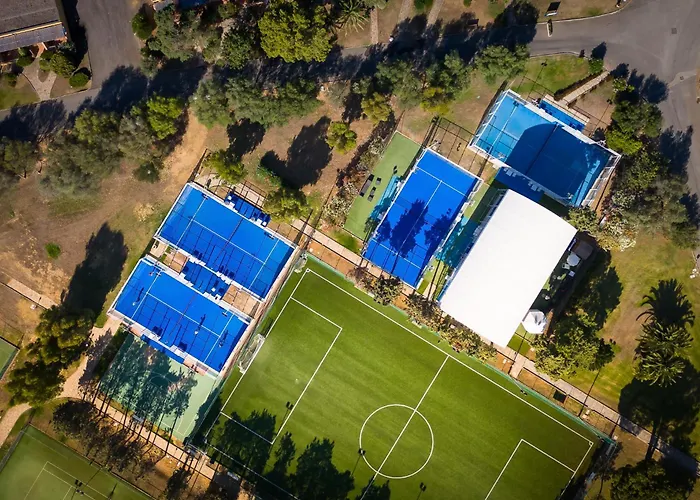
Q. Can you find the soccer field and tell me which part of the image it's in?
bottom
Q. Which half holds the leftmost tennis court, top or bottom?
bottom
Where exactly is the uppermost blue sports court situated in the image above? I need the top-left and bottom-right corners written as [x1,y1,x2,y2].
[464,88,618,213]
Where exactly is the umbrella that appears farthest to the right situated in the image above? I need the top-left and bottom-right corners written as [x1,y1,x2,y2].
[563,252,580,266]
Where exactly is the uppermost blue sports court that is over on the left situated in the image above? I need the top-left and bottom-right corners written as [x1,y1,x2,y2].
[154,181,303,304]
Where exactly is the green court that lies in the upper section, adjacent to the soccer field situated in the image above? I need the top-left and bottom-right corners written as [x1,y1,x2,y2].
[343,131,421,240]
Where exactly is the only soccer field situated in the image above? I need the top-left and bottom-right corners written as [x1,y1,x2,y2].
[189,258,608,500]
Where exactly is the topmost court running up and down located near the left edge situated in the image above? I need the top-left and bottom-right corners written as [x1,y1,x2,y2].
[0,330,21,378]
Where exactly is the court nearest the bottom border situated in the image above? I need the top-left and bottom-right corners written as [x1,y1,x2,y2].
[0,418,166,500]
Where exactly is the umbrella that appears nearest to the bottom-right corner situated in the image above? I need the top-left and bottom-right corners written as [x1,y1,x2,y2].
[521,309,546,333]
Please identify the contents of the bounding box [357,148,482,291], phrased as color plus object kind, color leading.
blue sports court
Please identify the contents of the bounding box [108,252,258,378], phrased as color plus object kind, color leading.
blue sports court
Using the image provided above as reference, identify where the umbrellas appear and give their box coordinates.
[521,309,546,333]
[563,252,580,266]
